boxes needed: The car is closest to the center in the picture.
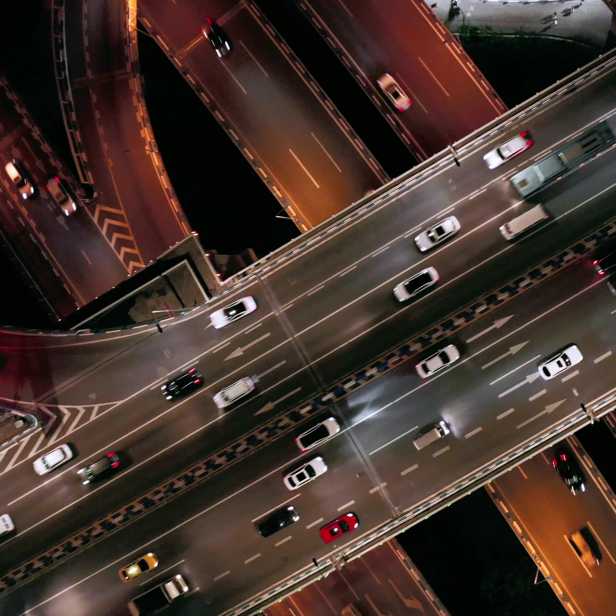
[213,294,258,328]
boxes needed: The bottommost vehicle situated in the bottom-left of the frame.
[126,571,190,616]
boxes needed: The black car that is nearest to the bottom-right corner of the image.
[554,454,583,493]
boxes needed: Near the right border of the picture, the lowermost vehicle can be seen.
[571,527,600,565]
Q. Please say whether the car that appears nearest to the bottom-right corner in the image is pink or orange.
orange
